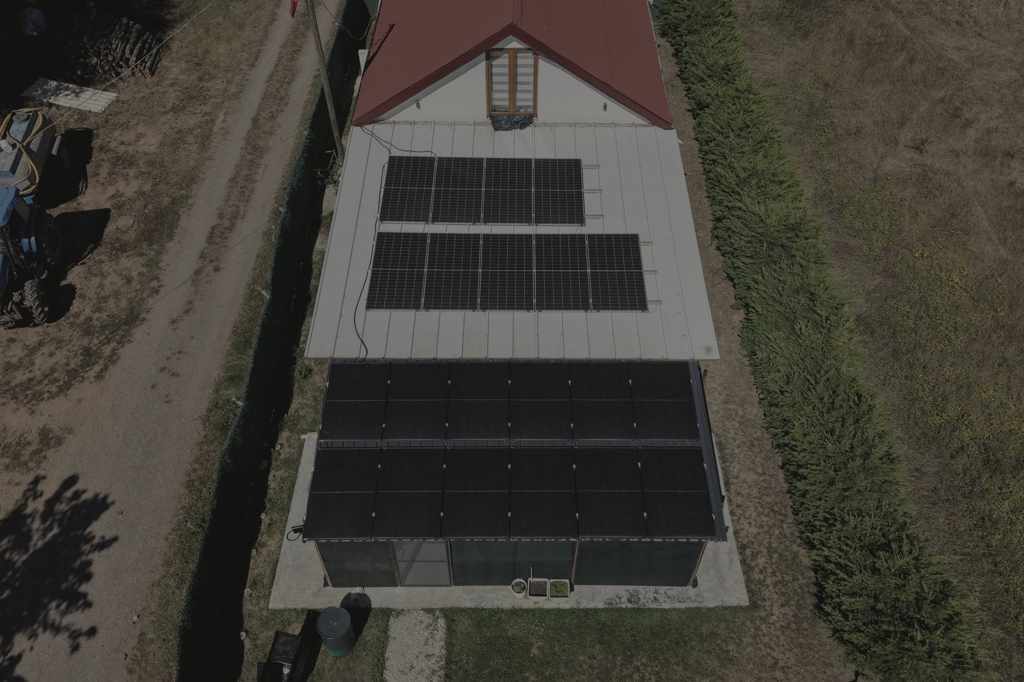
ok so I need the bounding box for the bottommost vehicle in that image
[0,182,69,323]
